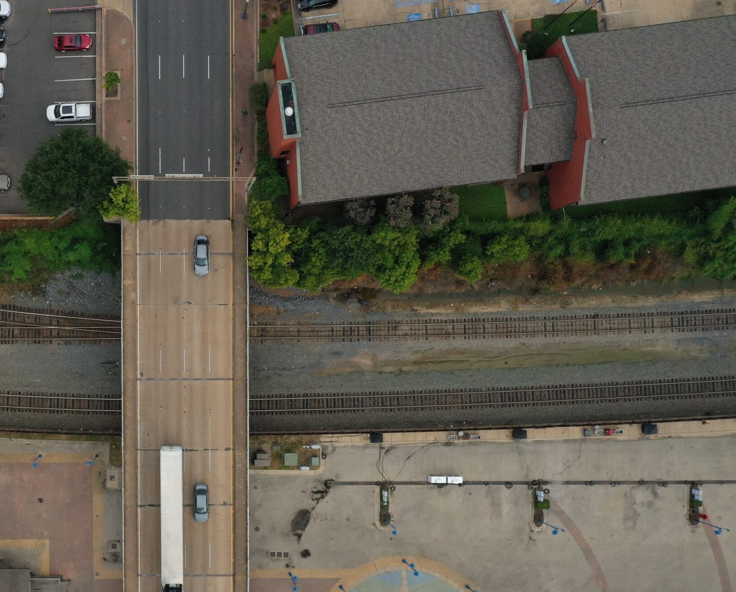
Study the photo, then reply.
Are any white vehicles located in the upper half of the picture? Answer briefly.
Yes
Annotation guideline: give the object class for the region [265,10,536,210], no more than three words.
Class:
building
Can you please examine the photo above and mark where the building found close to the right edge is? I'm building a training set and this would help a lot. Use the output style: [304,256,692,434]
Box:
[544,15,736,211]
